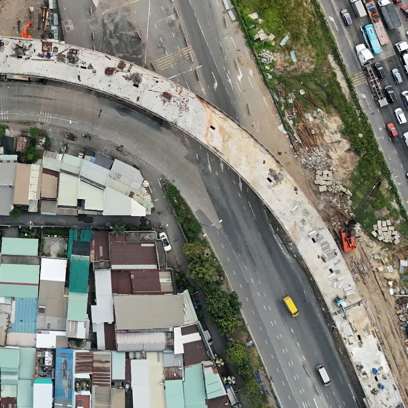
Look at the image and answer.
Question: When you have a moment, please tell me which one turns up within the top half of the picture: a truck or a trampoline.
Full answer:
It is a truck that can be seen within the top half of the picture.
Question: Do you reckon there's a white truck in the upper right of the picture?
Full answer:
Yes, you'll find a white truck in the upper right of the picture.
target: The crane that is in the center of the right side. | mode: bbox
[340,182,381,253]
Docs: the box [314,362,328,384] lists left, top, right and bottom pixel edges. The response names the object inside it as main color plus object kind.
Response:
white vehicle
